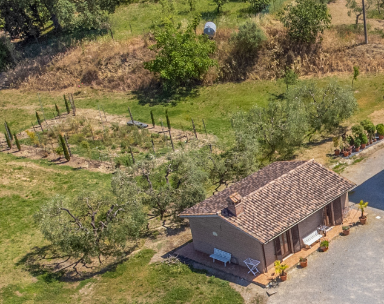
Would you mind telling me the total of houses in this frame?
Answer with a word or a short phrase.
one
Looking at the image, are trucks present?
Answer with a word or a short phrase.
No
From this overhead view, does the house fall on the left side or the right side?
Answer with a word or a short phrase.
right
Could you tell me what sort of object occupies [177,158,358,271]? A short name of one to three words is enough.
house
